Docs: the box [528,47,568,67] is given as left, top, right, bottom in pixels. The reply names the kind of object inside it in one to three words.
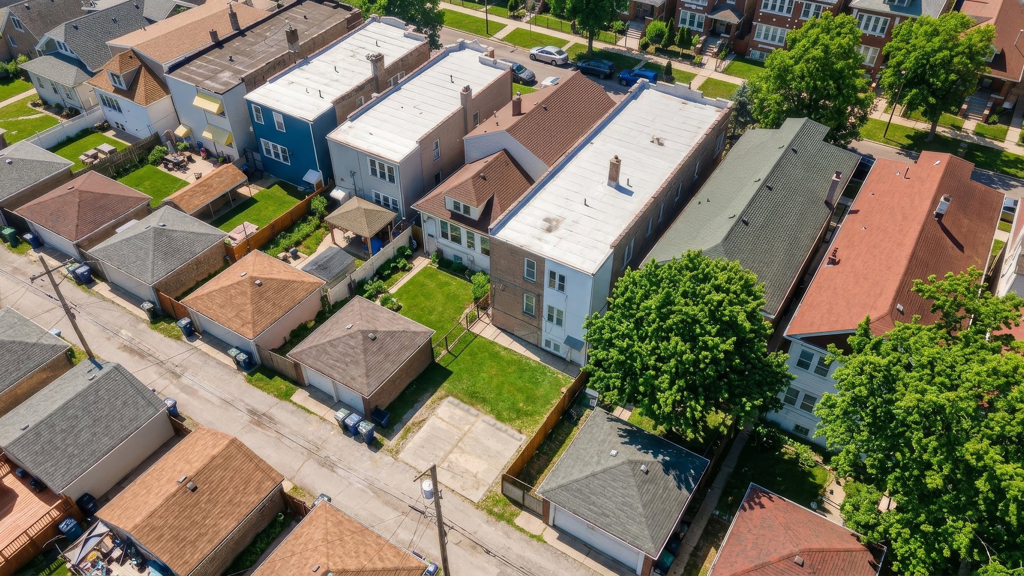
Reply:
car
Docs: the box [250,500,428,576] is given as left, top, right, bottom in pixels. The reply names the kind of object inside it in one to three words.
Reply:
building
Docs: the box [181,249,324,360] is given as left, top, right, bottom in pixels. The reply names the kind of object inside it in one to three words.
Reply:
building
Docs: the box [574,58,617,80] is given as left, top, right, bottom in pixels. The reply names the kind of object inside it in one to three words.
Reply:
car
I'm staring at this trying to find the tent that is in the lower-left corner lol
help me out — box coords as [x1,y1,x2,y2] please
[55,517,116,576]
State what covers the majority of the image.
buildings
